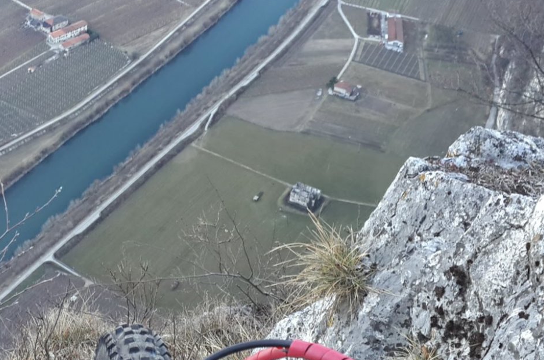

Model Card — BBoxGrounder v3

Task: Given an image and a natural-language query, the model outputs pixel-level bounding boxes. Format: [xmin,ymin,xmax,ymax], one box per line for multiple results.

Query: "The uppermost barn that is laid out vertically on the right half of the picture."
[385,14,405,52]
